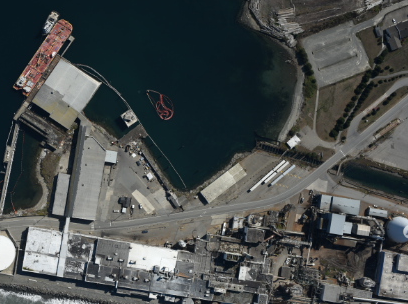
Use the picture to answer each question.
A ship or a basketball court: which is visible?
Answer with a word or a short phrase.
ship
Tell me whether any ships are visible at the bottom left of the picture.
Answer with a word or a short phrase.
No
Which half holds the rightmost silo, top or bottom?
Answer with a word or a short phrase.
bottom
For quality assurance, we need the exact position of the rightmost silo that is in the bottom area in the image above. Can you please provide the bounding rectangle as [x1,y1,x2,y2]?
[386,216,408,244]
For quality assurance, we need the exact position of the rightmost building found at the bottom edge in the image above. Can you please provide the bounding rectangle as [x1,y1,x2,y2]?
[374,250,408,300]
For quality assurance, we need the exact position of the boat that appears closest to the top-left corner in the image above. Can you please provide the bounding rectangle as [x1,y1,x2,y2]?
[41,11,57,35]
